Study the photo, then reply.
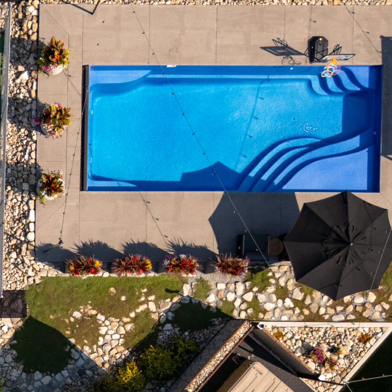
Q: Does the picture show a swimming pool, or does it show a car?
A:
swimming pool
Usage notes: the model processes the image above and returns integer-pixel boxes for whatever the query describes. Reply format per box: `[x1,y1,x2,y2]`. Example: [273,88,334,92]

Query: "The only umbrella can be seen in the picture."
[284,191,392,301]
